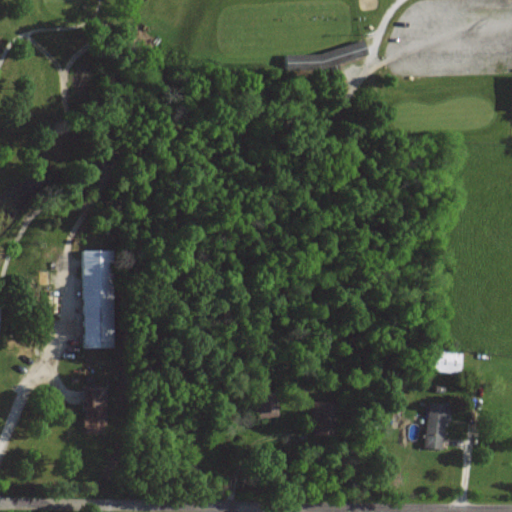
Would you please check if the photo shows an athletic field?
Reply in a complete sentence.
Yes, there's an athletic field here.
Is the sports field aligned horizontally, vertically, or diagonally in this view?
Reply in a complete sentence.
From this overhead view, the sports field appears to run horizontally.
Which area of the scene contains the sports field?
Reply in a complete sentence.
The sports field is located in the top region of the scene.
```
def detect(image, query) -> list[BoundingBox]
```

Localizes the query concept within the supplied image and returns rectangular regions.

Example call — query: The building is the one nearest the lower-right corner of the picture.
[426,412,449,450]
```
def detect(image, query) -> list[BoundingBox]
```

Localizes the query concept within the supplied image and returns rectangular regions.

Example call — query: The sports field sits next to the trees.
[217,2,352,64]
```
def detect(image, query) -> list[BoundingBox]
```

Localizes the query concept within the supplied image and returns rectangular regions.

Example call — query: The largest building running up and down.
[80,250,115,349]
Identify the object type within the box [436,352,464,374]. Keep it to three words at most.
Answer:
building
